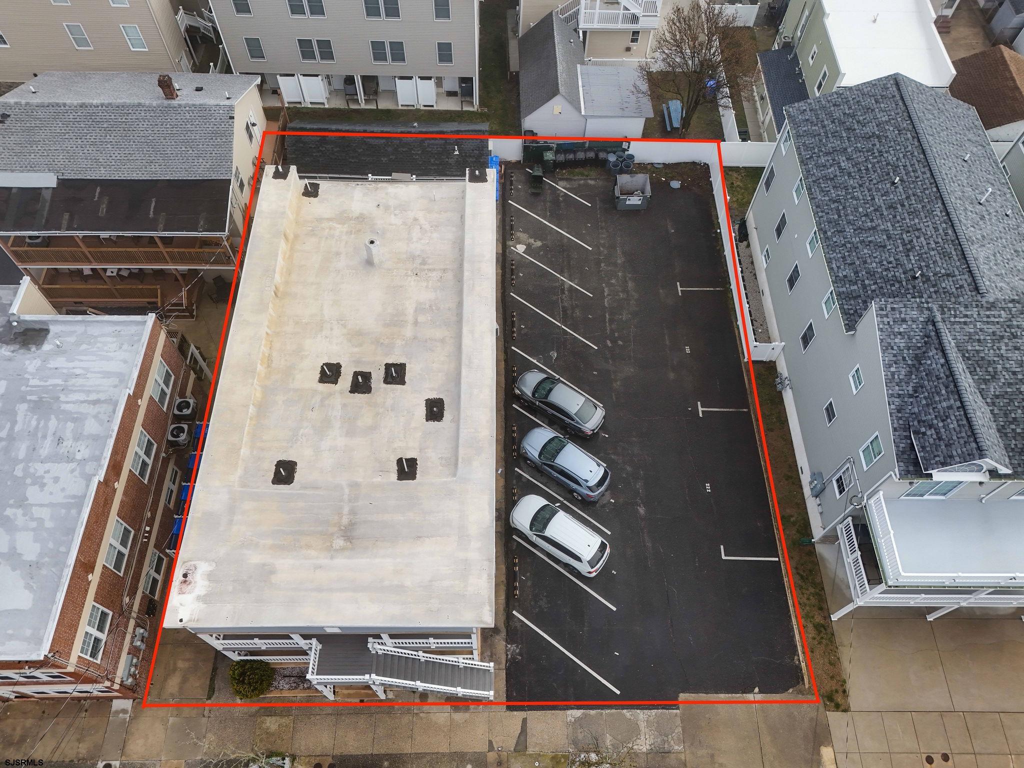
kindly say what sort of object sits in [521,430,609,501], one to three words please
car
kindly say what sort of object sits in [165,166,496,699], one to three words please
house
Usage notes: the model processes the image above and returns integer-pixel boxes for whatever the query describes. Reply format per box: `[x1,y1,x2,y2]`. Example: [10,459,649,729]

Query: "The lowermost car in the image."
[511,496,607,577]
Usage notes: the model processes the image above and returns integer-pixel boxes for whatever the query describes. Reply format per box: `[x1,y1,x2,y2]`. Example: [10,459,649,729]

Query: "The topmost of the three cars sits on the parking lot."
[514,371,603,437]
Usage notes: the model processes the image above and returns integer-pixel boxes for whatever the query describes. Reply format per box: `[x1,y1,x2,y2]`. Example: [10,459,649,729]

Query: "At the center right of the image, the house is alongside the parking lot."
[747,71,1024,622]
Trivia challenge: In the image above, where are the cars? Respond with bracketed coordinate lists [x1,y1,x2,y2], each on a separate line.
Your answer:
[514,371,603,437]
[521,430,609,501]
[511,496,607,577]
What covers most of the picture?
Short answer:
buildings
